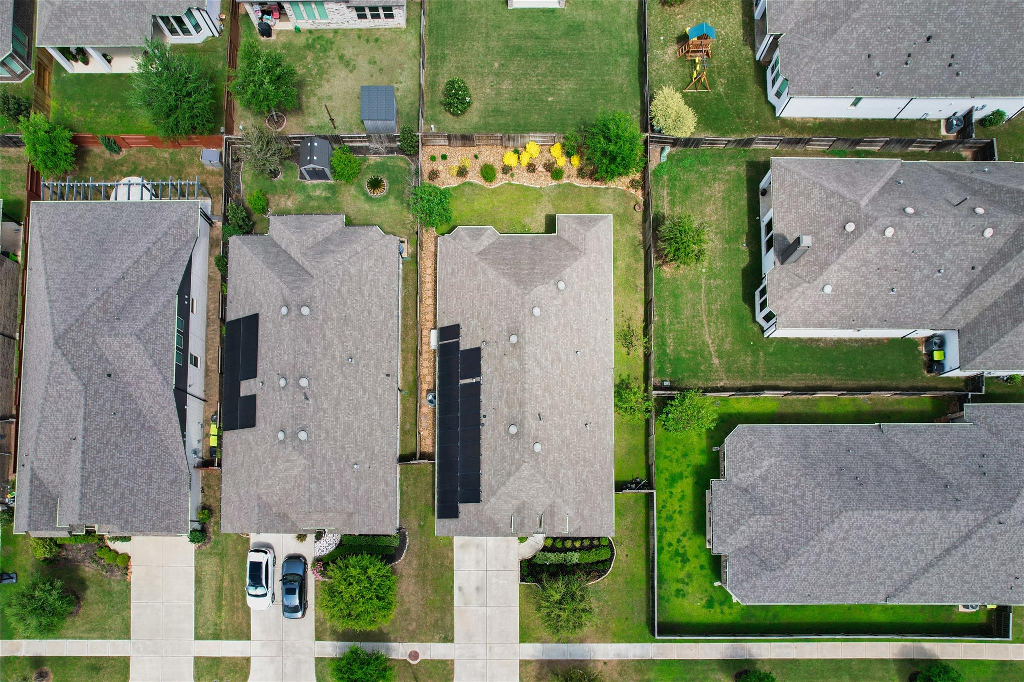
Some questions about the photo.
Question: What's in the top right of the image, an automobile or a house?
house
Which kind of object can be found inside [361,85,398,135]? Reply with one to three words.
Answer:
shed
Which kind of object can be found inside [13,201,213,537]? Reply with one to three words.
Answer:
house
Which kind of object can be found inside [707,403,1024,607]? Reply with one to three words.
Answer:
house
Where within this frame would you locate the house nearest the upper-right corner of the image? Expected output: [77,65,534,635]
[755,0,1024,123]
